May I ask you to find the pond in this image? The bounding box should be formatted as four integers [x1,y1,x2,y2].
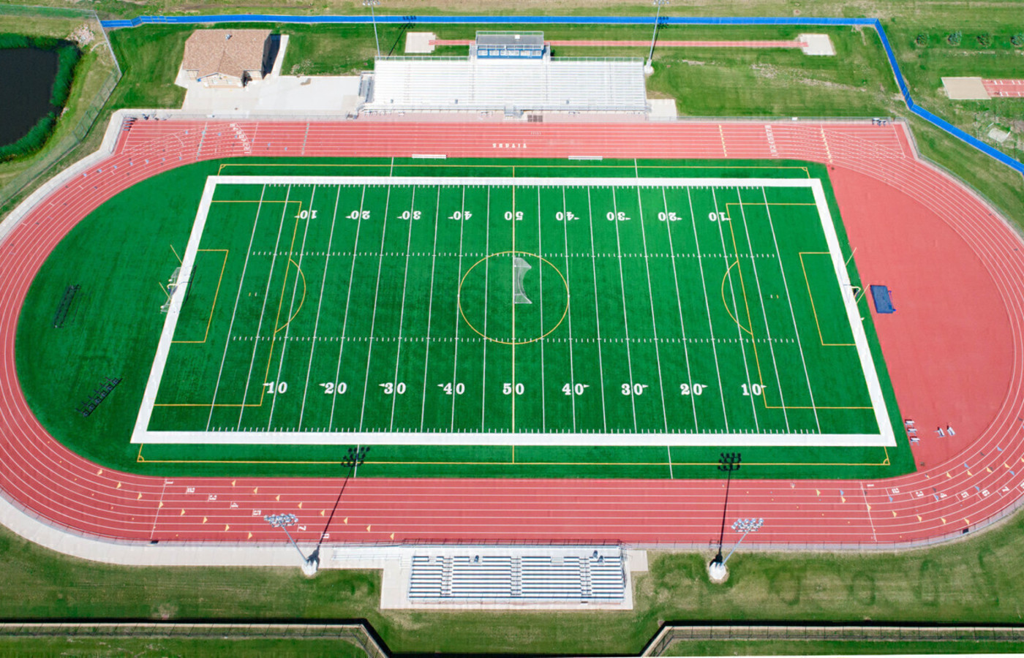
[0,40,79,148]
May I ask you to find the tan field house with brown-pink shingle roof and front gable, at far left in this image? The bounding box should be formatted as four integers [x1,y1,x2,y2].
[181,29,272,90]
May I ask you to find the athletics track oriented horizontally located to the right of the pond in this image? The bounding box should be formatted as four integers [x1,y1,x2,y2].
[0,114,1024,553]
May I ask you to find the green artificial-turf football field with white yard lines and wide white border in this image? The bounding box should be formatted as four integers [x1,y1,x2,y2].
[14,156,919,480]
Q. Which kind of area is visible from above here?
sports ground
